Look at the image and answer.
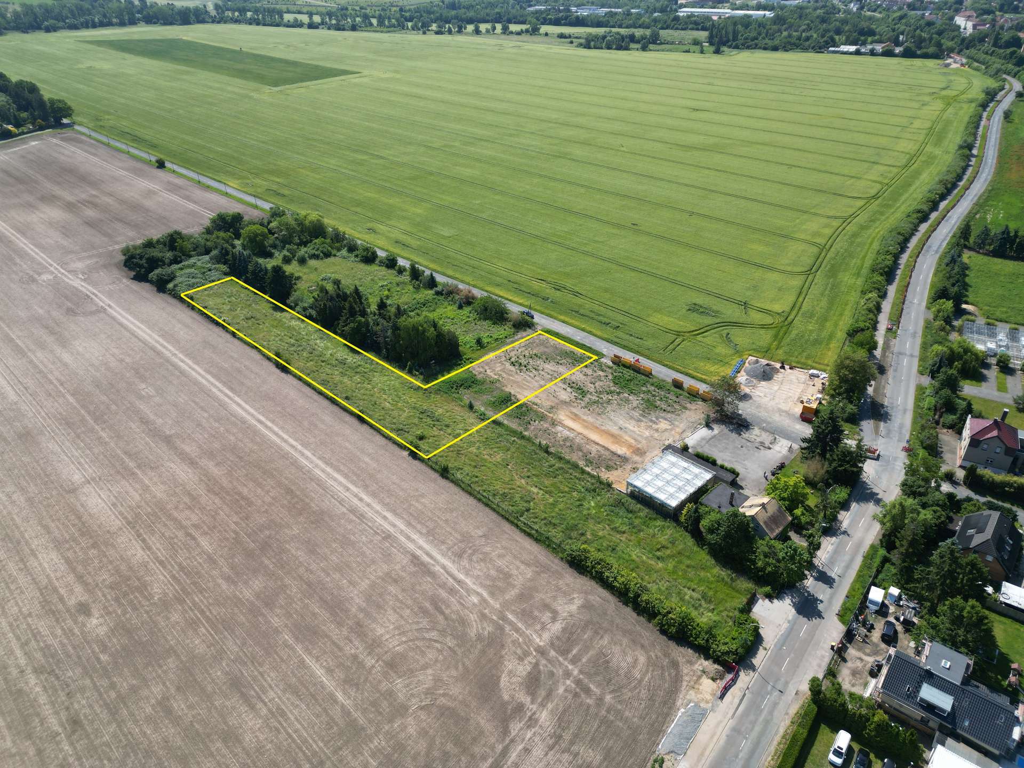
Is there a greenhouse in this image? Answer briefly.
Yes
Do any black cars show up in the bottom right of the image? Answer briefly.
Yes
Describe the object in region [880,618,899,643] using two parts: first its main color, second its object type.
black car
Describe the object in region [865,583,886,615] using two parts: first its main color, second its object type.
white camper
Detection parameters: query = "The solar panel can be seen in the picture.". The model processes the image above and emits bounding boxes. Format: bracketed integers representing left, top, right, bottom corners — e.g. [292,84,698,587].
[964,515,993,546]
